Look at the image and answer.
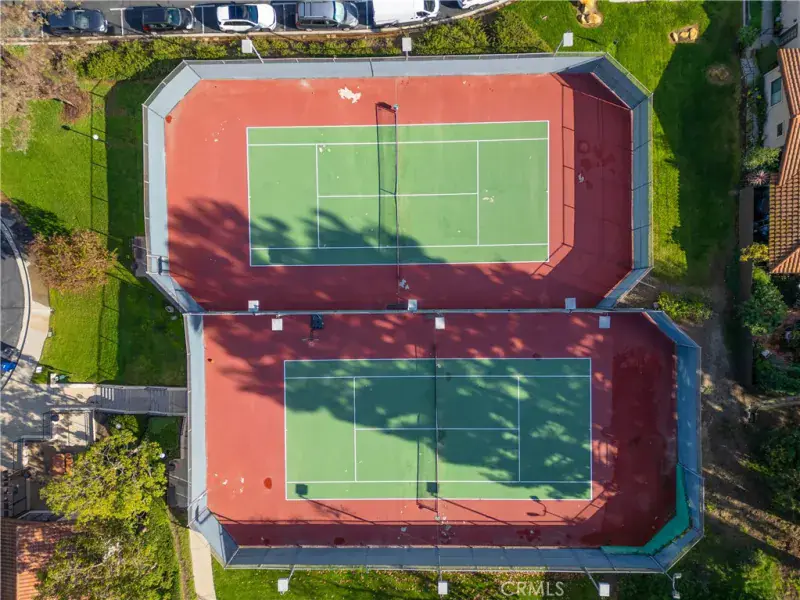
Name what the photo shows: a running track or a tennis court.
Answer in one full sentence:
It is a tennis court that can be seen here.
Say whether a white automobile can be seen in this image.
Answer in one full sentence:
Yes, the picture does show a white automobile.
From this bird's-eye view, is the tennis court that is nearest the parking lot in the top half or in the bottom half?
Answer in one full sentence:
The tennis court that is nearest the parking lot sits in the top half of the picture.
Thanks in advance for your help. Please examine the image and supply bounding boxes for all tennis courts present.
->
[205,310,677,548]
[164,73,633,311]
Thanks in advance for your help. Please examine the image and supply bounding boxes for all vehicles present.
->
[141,5,198,36]
[373,0,439,24]
[296,0,359,33]
[48,5,112,37]
[459,0,497,11]
[216,2,277,35]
